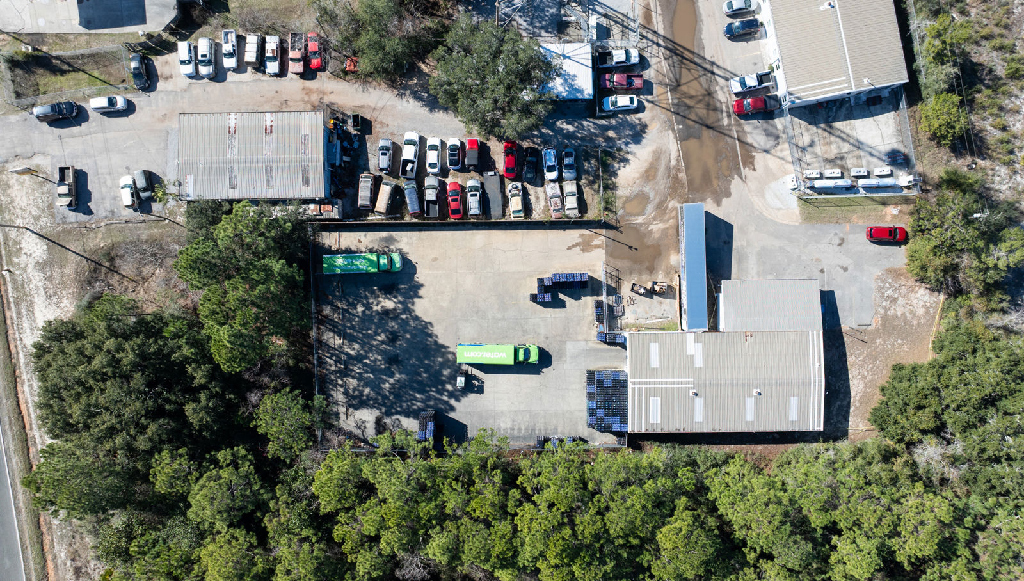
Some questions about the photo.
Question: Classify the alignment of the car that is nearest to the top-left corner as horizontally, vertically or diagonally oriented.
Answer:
horizontally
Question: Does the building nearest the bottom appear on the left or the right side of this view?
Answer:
right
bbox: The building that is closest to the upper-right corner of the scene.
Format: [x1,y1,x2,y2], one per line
[757,0,909,112]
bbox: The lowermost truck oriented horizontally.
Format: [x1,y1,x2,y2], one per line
[453,342,540,366]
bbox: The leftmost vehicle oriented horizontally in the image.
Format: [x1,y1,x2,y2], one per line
[32,102,81,123]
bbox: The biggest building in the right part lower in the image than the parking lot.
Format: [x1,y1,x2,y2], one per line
[622,330,826,432]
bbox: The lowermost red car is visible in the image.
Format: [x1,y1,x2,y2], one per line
[865,225,907,243]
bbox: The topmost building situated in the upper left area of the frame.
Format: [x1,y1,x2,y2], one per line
[177,112,332,203]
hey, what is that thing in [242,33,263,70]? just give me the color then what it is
white vehicle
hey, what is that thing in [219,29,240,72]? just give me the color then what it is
white truck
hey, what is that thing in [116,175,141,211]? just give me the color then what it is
white car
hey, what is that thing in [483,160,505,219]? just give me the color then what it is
gray trailer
